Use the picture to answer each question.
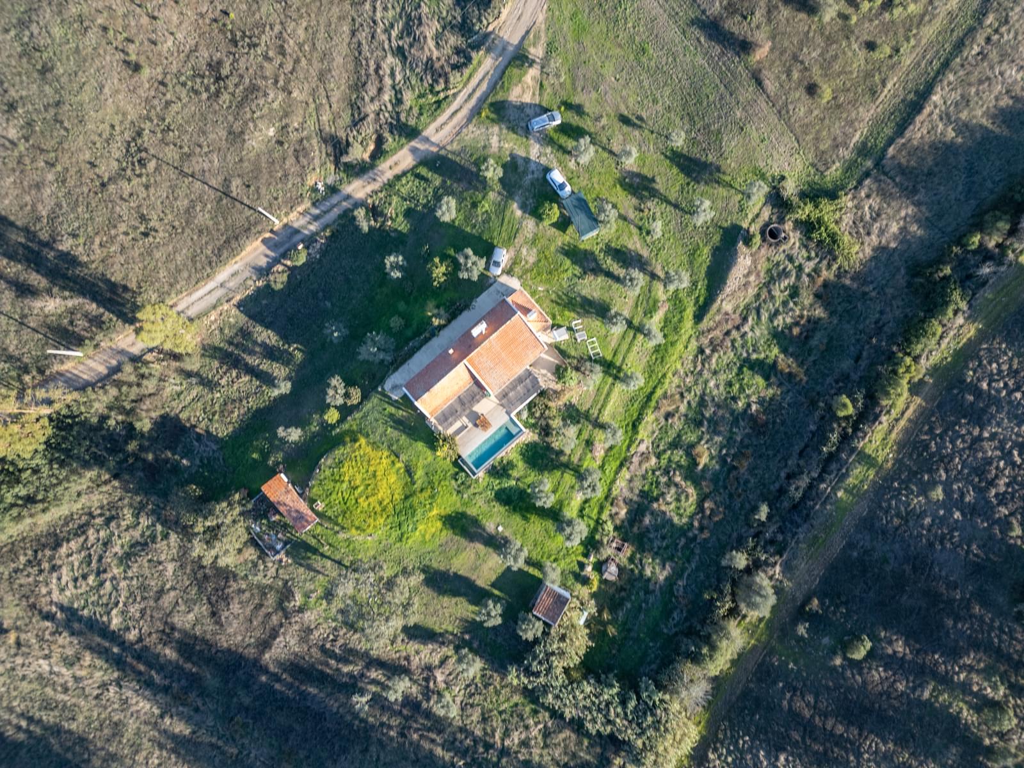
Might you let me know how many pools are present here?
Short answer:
1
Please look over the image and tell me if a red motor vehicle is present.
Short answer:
No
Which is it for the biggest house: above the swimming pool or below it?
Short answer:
above it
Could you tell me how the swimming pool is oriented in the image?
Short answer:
on a diagonal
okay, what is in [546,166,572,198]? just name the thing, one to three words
car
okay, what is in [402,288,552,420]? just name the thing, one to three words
house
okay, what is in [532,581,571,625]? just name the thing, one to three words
shed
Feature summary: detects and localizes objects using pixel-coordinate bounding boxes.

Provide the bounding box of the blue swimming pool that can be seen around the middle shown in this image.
[458,415,526,475]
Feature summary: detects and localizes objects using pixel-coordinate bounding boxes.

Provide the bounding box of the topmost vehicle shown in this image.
[528,110,562,131]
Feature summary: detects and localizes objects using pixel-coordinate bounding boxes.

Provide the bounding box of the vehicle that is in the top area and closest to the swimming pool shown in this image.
[489,246,506,276]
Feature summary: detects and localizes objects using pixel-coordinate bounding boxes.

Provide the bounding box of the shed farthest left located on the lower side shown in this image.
[261,472,318,533]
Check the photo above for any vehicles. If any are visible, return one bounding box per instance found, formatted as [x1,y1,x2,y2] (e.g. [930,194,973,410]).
[546,166,572,198]
[489,246,506,276]
[528,110,562,131]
